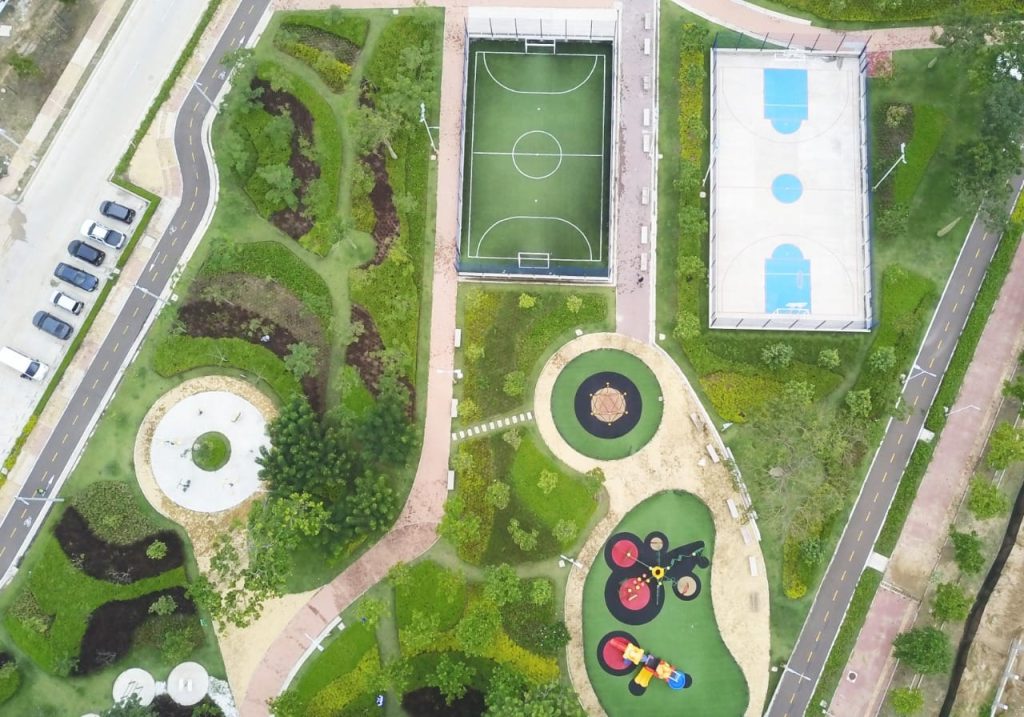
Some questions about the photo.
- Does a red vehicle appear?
No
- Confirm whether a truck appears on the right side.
No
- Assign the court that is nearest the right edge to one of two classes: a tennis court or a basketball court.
basketball court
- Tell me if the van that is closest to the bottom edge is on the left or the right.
left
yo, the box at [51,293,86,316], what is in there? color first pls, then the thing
white car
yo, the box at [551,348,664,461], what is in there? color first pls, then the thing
green playground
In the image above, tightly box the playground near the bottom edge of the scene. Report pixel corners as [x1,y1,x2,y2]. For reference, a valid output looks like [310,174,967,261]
[583,489,750,717]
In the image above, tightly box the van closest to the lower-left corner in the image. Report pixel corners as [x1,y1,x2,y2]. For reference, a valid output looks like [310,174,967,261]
[0,344,48,379]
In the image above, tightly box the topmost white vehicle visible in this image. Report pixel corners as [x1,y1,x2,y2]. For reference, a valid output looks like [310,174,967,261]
[81,222,128,249]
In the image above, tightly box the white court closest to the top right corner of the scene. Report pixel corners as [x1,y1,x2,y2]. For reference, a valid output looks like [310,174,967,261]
[709,48,870,329]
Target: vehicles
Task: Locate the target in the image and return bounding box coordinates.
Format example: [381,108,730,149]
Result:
[32,312,76,339]
[67,241,108,266]
[0,344,48,379]
[100,201,138,225]
[51,293,86,316]
[53,263,100,291]
[81,222,128,249]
